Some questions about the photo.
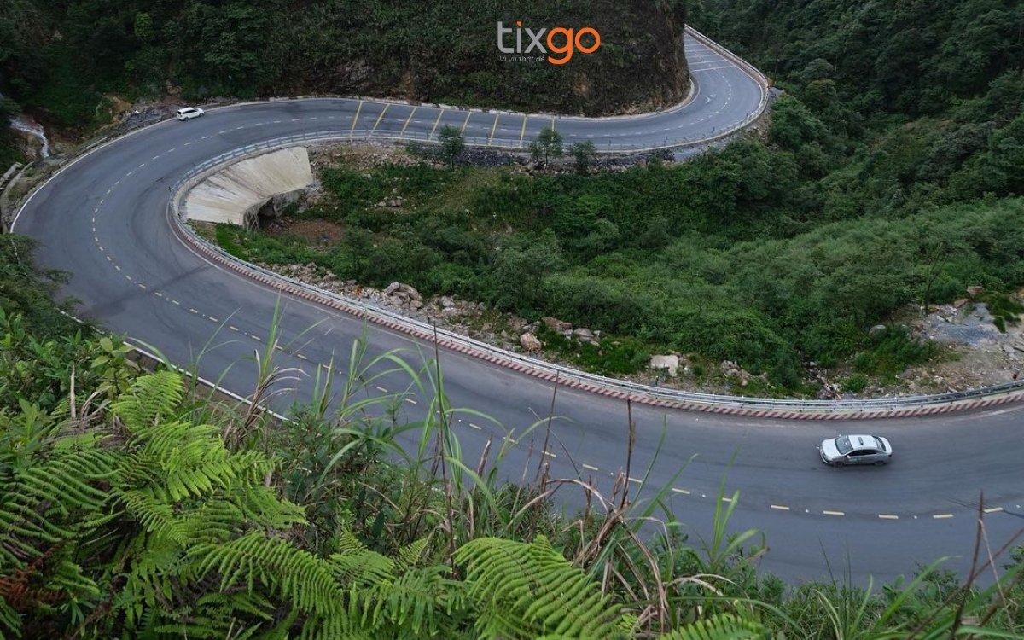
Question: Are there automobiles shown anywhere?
Yes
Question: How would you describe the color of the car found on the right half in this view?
white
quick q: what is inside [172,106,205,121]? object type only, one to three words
car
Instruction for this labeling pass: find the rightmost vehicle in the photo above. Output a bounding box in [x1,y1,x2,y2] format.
[818,434,894,467]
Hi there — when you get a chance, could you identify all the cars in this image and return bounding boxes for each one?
[818,434,894,467]
[172,106,205,121]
